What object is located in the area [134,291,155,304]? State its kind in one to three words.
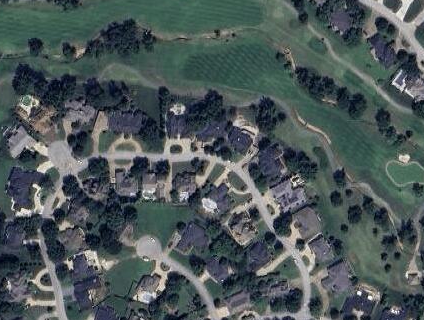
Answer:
swimming pool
